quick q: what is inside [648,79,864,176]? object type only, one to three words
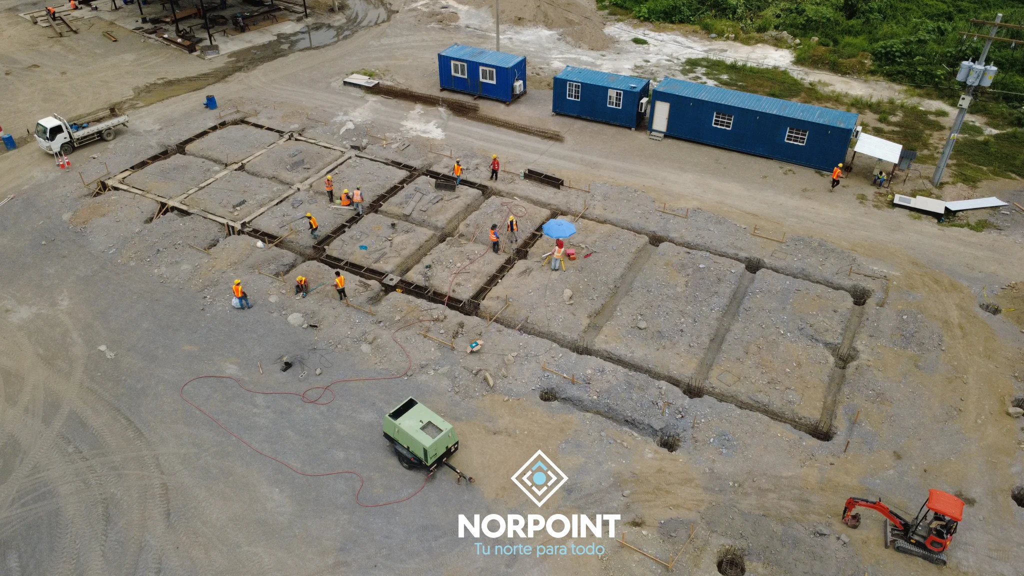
shipping container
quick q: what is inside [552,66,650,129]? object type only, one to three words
shipping container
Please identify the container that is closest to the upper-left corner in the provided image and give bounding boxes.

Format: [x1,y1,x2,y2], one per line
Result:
[438,45,526,102]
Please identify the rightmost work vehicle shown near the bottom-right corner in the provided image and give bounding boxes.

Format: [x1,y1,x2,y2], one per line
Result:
[842,487,969,566]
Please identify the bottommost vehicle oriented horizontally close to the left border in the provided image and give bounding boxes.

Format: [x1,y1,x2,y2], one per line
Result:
[27,108,126,155]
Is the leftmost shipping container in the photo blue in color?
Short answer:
Yes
